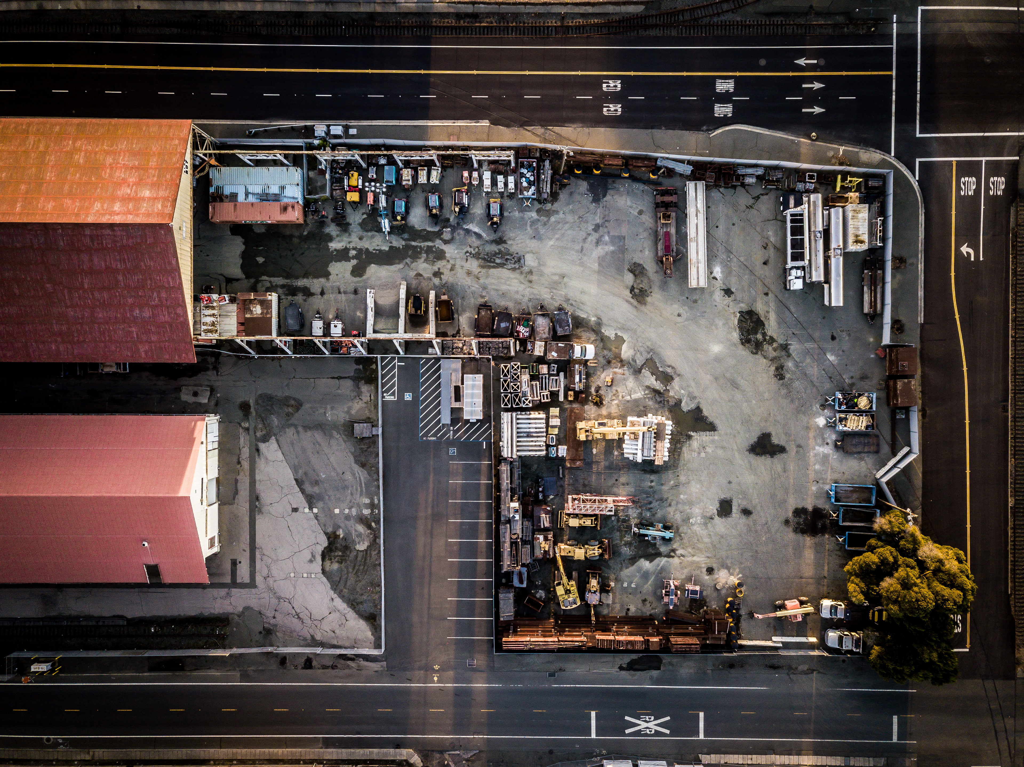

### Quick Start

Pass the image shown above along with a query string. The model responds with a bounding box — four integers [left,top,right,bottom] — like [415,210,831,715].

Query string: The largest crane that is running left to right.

[576,419,658,440]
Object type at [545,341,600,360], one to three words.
vehicle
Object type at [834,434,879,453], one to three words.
trailer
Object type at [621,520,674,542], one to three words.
work vehicle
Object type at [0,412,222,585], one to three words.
shed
